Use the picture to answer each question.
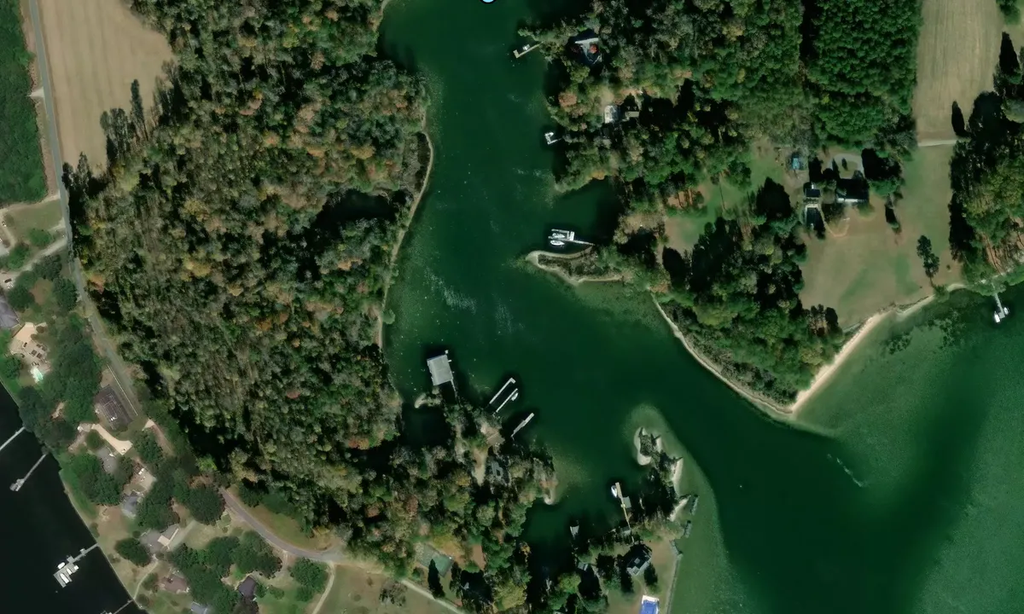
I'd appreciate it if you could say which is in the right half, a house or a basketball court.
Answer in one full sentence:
It is a house that can be seen in the right half.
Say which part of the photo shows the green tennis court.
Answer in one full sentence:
The green tennis court appears toward the bottom of the photo.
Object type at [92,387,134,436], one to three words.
tennis court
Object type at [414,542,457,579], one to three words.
tennis court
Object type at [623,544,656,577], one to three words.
house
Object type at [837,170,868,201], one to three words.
house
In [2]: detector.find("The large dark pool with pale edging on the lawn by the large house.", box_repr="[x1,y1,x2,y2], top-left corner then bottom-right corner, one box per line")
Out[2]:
[805,205,824,226]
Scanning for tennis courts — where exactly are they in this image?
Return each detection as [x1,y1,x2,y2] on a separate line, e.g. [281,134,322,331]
[92,387,134,436]
[414,542,457,579]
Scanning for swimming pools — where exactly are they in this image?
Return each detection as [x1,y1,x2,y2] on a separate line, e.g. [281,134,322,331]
[805,205,824,226]
[30,367,43,382]
[639,596,659,614]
